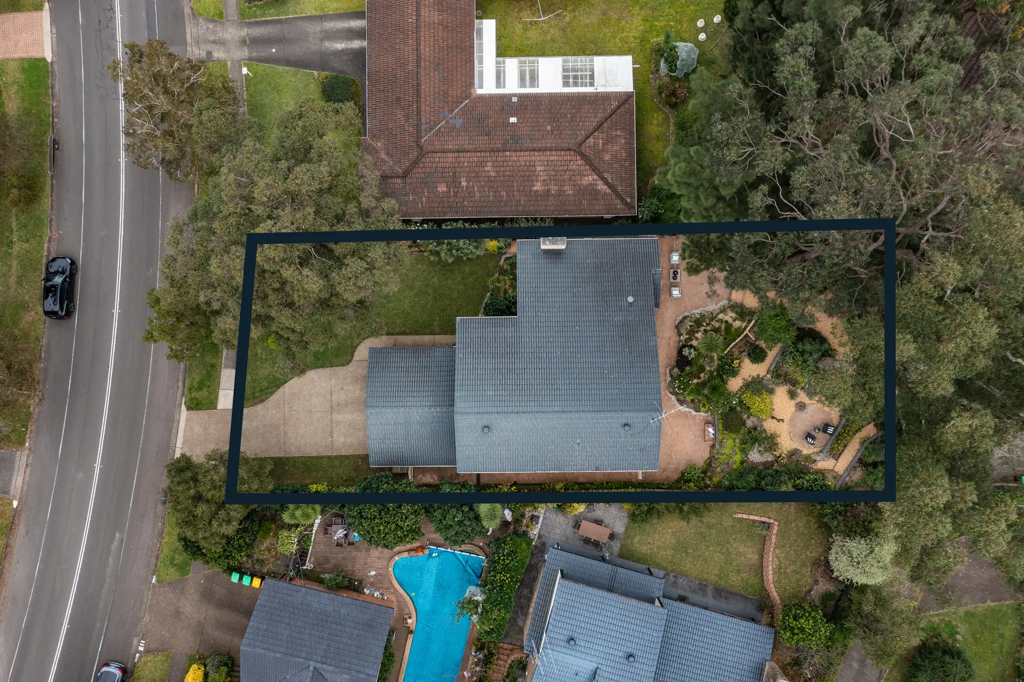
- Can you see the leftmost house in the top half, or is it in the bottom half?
bottom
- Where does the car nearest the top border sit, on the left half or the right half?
left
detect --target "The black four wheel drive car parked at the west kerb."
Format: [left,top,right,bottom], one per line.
[39,256,77,320]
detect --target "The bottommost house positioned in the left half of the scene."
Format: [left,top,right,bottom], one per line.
[239,572,396,682]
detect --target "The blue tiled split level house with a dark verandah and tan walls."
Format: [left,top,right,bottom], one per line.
[508,530,775,682]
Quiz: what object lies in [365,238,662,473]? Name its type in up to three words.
house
